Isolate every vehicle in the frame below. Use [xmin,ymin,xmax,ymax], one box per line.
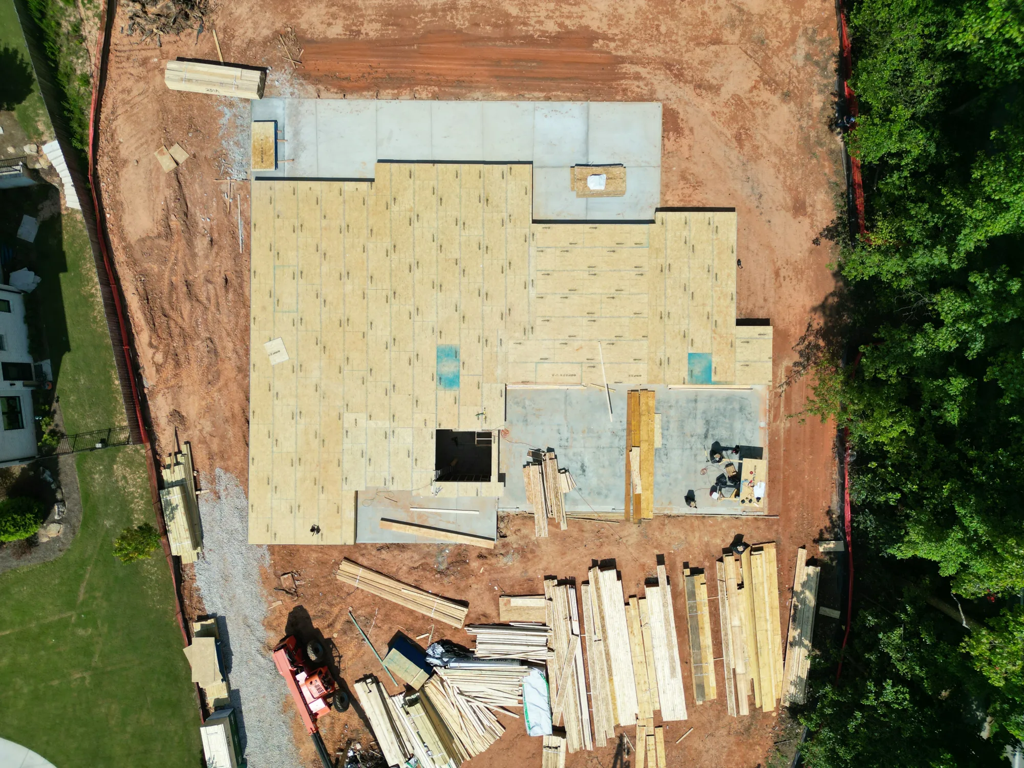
[271,631,351,768]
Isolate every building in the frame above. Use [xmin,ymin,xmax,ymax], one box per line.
[249,97,774,544]
[0,283,38,470]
